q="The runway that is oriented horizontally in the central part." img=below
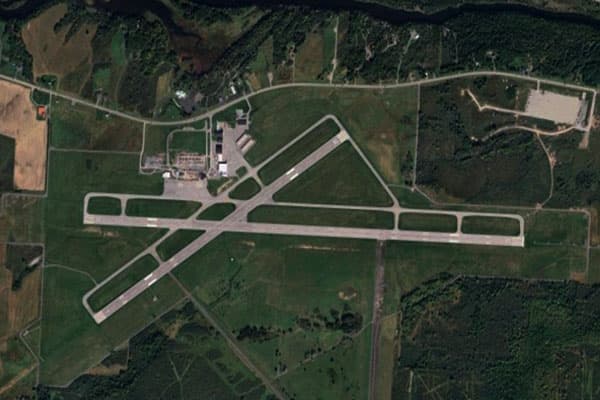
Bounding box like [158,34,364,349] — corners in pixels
[84,215,524,247]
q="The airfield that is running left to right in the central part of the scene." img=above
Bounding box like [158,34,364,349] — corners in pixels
[83,115,525,323]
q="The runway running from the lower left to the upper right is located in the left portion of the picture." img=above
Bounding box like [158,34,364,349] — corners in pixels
[94,131,350,323]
